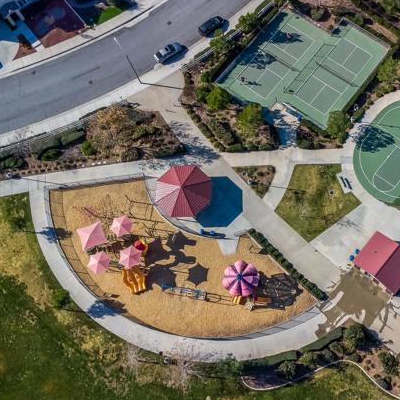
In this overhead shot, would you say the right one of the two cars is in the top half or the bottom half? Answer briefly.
top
